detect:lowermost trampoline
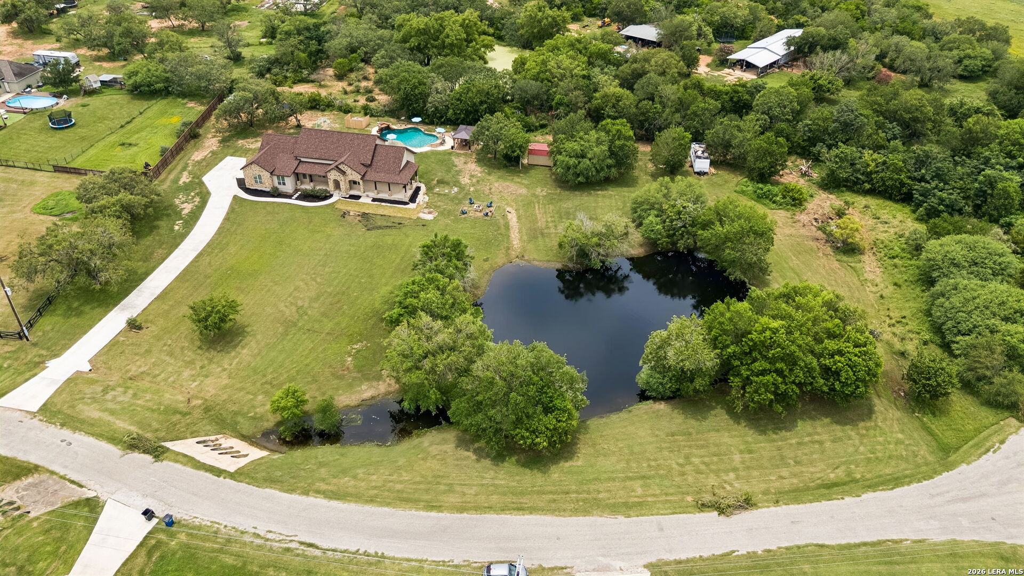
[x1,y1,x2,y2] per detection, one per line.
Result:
[45,105,76,129]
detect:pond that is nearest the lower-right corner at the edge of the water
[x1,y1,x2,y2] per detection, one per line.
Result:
[480,251,746,419]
